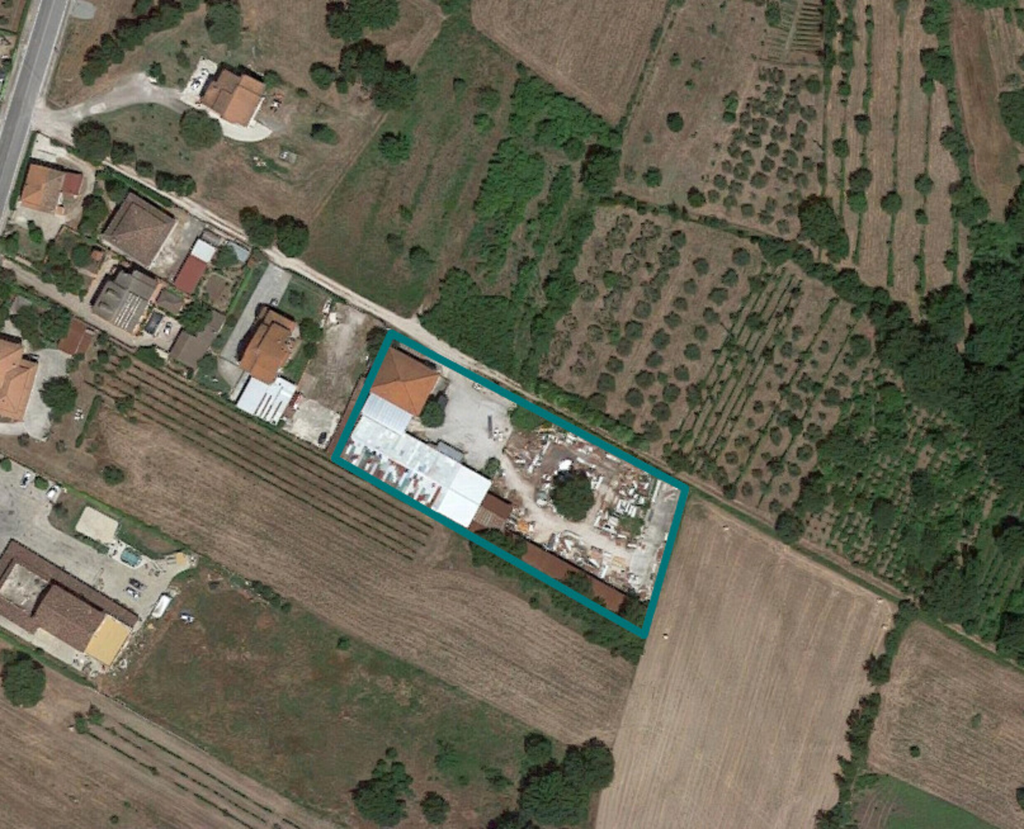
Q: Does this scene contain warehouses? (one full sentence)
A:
Yes, the photo shows a warehouse.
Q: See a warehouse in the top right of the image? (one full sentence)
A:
No, the scene shows no warehouse in the top right of the image.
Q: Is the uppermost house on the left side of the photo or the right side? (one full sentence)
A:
It is on the left.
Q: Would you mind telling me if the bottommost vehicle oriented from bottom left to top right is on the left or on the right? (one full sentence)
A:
The bottommost vehicle oriented from bottom left to top right appears in the left half of the scene.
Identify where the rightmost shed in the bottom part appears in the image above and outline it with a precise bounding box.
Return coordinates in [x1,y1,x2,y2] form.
[521,542,625,613]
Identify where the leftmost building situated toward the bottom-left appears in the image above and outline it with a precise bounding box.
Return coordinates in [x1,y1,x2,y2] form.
[0,539,138,667]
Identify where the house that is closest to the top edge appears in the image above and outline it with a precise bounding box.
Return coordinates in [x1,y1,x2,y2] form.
[200,67,267,130]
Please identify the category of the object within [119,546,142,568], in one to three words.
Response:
swimming pool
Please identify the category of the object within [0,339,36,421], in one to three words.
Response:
house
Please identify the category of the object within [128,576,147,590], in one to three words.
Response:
car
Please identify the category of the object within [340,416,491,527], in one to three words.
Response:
warehouse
